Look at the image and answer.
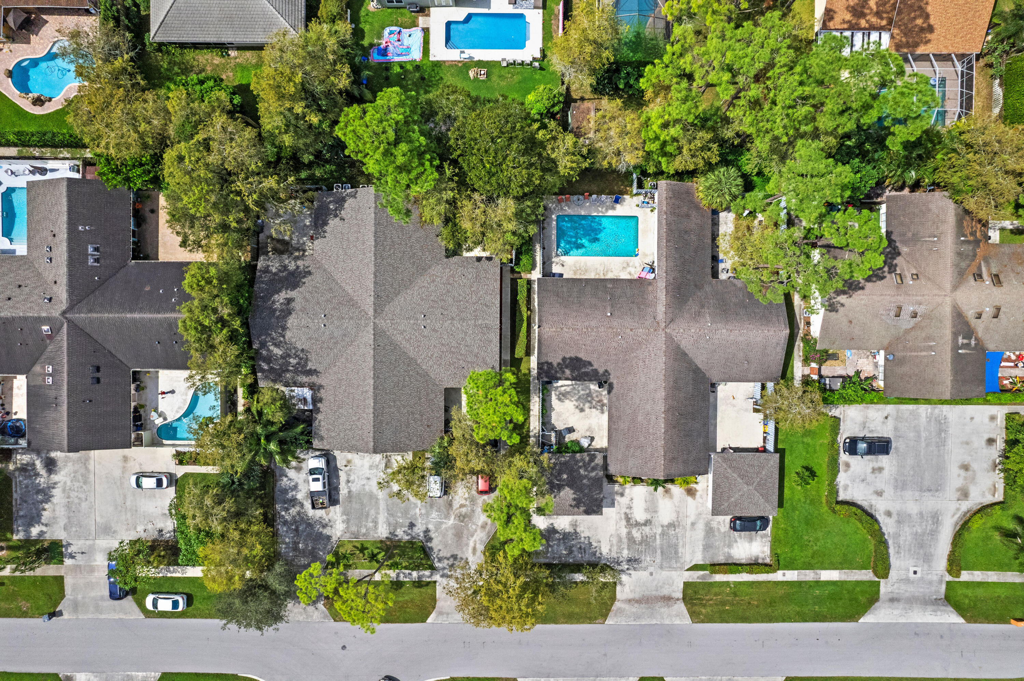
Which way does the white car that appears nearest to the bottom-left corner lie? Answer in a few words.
from left to right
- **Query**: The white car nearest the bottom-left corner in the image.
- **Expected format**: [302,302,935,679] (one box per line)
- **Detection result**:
[145,592,187,613]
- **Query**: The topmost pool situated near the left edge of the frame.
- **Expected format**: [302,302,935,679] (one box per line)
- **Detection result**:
[8,35,102,101]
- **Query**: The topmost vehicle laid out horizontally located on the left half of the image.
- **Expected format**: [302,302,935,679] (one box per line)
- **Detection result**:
[128,471,171,491]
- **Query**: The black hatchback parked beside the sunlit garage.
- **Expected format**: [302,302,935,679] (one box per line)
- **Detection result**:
[729,515,767,533]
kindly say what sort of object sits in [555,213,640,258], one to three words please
swimming pool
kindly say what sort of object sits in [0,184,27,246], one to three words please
swimming pool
